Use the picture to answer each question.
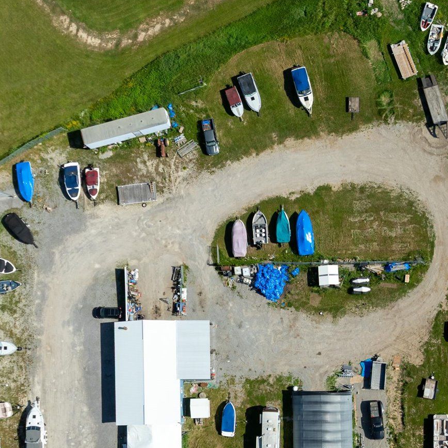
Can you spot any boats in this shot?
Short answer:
Yes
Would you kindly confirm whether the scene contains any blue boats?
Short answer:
Yes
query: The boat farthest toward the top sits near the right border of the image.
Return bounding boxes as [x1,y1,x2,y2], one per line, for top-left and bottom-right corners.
[421,2,439,31]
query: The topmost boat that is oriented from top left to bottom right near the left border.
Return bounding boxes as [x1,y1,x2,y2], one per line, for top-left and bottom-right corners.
[1,211,35,245]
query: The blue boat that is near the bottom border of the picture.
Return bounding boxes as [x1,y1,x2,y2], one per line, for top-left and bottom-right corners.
[221,402,236,437]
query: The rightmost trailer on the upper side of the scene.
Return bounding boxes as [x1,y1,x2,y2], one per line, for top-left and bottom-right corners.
[419,76,448,136]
